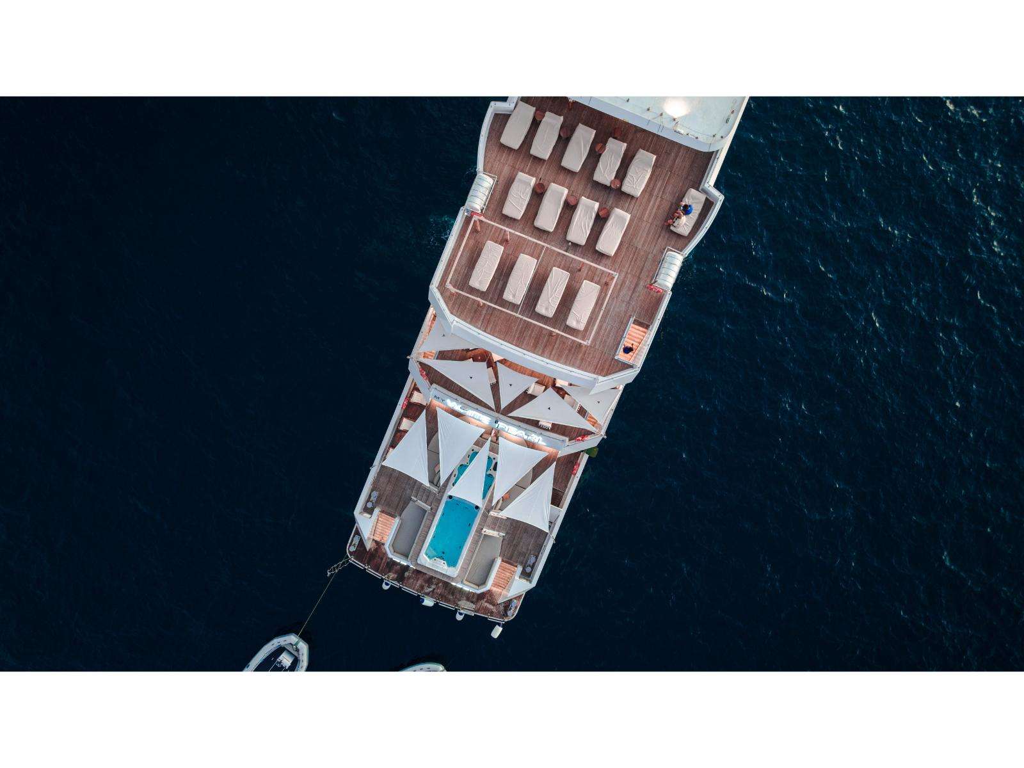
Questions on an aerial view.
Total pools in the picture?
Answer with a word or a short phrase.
1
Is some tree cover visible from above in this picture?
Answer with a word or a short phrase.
No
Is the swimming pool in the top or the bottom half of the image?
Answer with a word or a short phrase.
bottom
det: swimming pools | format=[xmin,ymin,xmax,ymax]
[418,445,498,576]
